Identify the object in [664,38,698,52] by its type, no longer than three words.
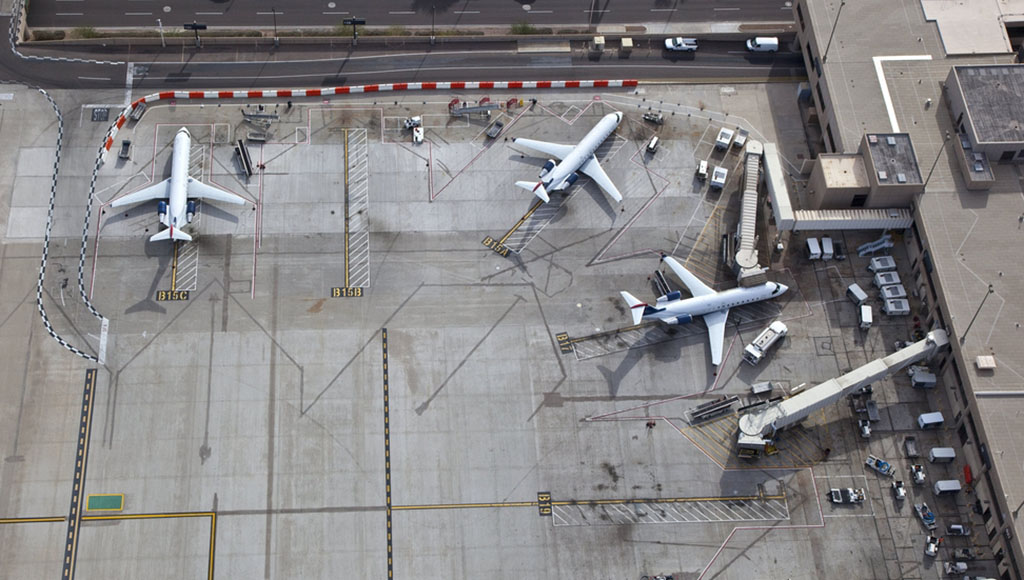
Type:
vehicle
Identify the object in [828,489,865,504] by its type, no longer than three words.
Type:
work vehicle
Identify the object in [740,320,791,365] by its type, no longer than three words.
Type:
truck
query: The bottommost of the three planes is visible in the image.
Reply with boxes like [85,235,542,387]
[620,254,788,364]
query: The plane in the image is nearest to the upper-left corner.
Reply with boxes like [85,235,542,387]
[106,129,248,243]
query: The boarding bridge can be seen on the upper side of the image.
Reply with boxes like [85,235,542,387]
[732,141,771,287]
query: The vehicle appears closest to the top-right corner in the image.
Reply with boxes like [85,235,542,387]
[746,37,780,53]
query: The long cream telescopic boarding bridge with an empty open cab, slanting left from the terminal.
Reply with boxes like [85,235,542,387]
[734,335,950,459]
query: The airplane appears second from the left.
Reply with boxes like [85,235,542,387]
[508,113,625,203]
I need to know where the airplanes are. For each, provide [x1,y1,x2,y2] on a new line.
[106,129,248,243]
[508,113,625,203]
[620,254,788,364]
